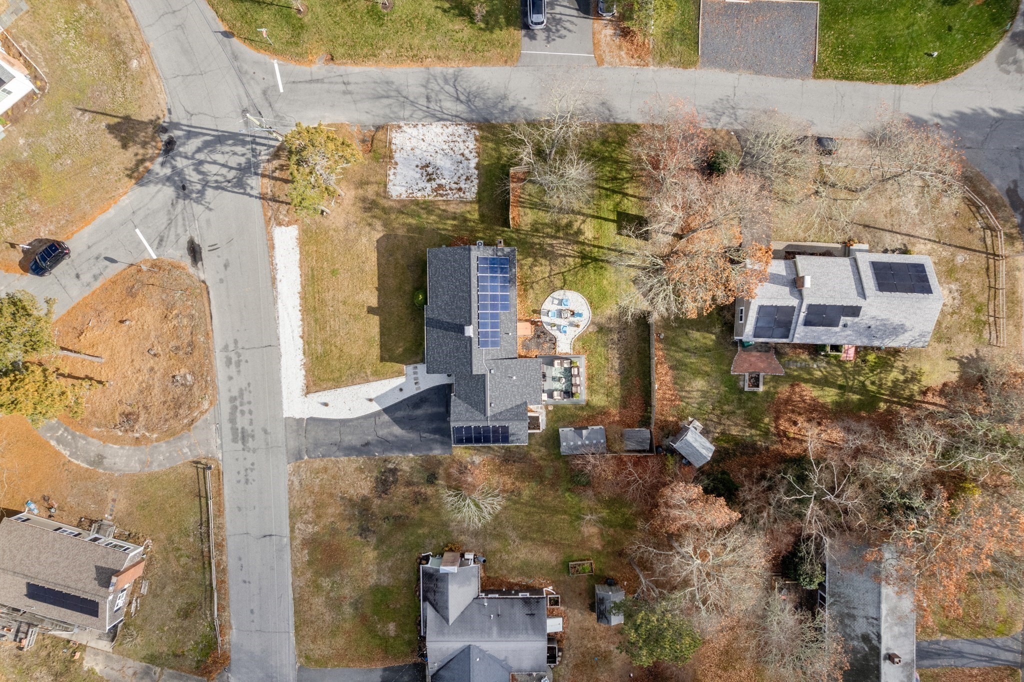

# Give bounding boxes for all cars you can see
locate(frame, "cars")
[816,129,840,158]
[598,0,617,13]
[25,236,69,278]
[527,0,547,29]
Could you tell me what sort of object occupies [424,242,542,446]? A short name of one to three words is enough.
house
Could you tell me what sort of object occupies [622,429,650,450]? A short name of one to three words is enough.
shed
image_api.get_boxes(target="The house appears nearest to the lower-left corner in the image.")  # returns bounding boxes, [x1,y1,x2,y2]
[0,507,149,633]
